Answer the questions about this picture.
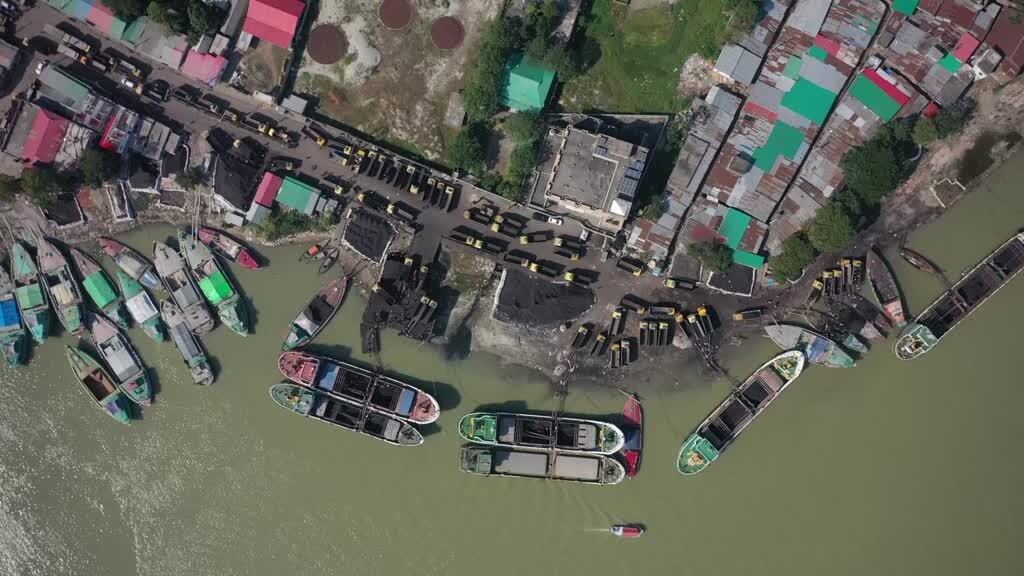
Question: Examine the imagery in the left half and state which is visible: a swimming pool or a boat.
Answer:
boat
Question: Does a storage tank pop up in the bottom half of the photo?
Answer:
No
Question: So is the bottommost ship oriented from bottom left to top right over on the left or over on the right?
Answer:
right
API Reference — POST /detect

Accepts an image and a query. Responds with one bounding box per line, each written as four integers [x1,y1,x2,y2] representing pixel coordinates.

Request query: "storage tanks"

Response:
[307,23,349,65]
[379,0,414,29]
[430,16,464,51]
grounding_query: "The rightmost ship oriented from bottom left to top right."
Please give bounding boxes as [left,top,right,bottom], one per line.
[890,228,1024,356]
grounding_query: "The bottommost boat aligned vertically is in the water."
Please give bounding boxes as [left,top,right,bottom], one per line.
[620,394,643,479]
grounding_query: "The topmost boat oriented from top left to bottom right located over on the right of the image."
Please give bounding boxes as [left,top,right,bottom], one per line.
[898,247,943,274]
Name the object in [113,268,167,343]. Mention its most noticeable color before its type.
white boat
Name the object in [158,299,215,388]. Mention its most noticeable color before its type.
gray boat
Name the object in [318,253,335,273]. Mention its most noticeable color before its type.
gray boat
